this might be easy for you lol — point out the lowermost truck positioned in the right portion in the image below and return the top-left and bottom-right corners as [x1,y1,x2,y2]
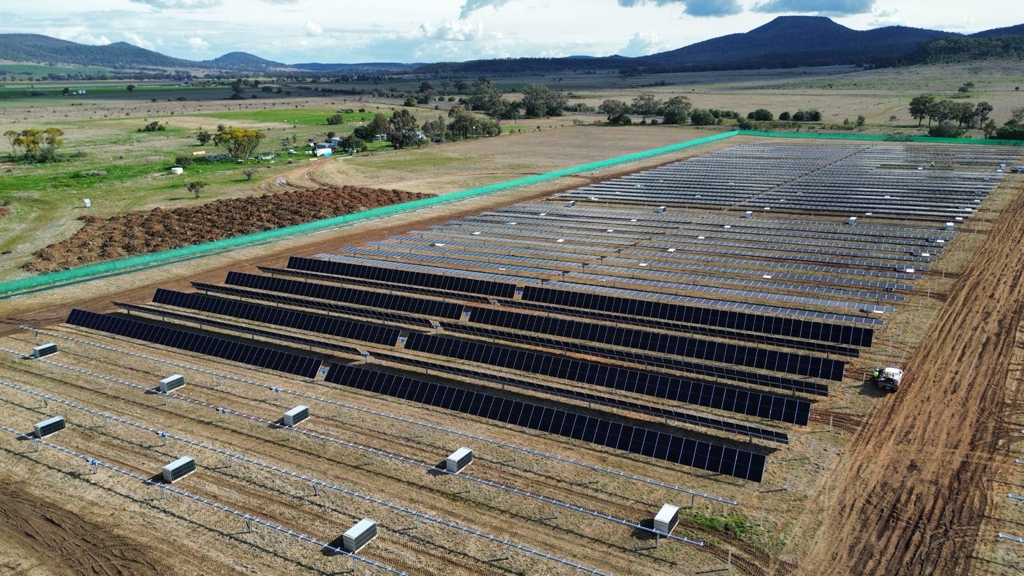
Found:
[874,362,904,388]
